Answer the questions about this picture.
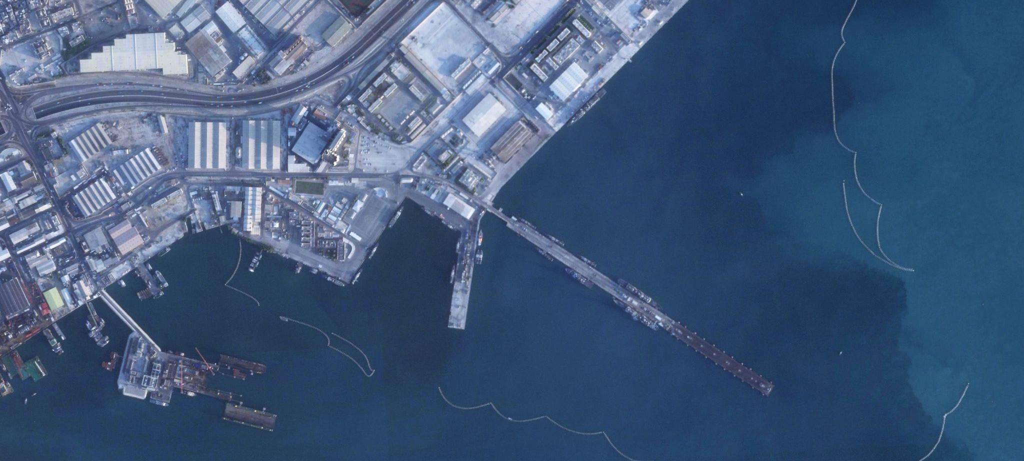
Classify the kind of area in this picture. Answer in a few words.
port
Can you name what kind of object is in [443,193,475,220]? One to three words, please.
building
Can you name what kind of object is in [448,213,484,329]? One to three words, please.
pier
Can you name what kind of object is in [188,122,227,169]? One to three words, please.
building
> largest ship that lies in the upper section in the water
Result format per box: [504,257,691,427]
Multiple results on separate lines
[568,89,606,126]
